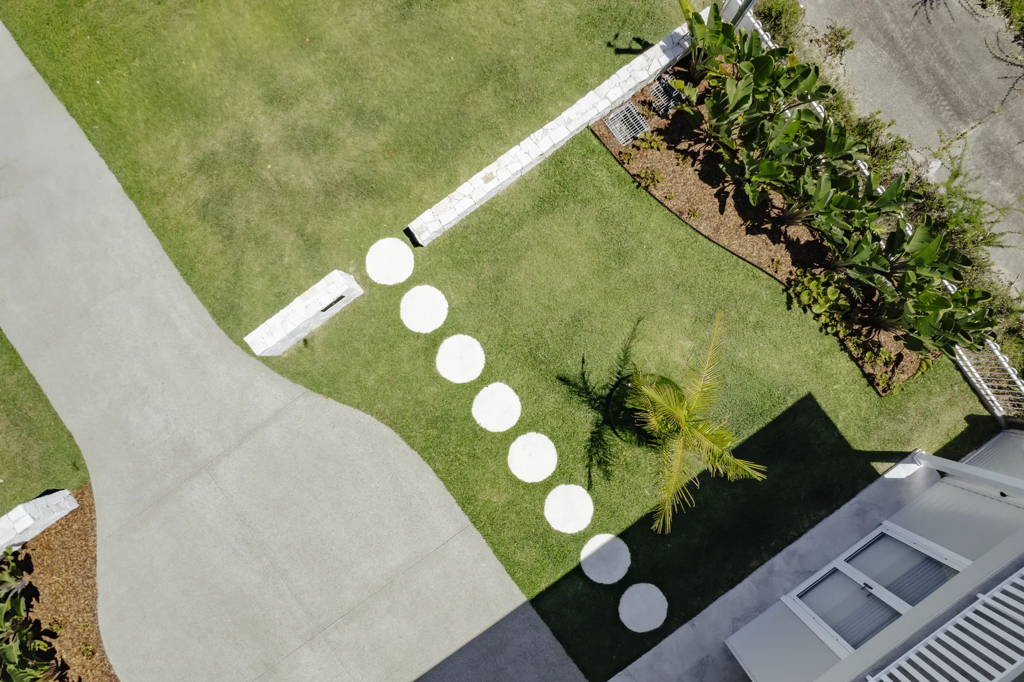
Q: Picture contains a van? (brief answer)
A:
No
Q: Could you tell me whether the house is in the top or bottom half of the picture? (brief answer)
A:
bottom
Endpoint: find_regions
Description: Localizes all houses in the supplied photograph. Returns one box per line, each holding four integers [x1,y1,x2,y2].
[724,448,1024,682]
